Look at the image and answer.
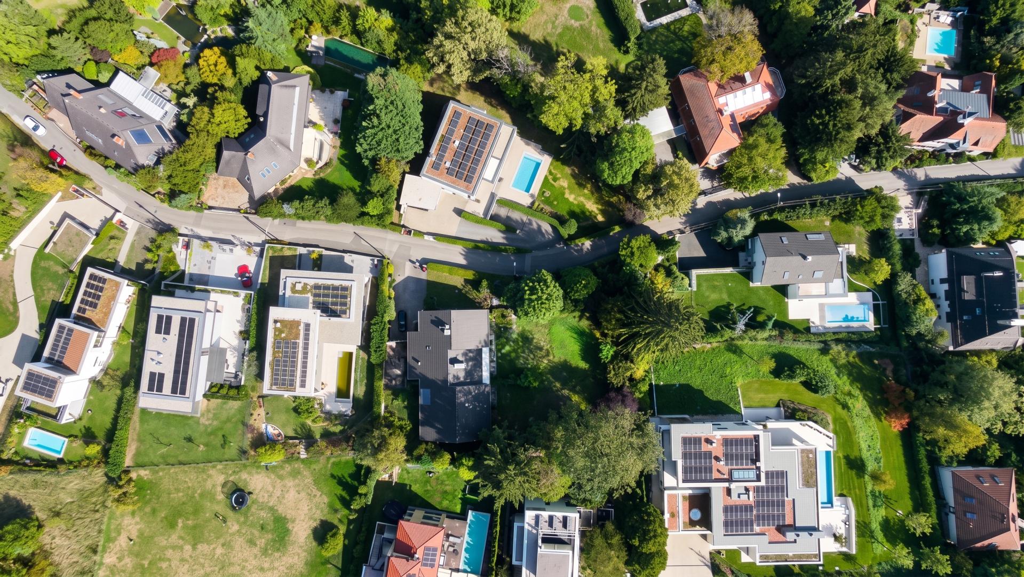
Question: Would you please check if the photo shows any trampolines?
Yes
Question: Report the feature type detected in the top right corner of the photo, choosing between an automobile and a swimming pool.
swimming pool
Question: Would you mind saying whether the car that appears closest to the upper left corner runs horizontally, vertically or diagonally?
diagonally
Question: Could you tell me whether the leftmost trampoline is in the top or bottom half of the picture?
bottom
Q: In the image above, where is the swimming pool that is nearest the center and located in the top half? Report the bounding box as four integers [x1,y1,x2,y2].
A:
[509,151,544,195]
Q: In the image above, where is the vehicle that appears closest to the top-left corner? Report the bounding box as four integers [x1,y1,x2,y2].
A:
[22,114,48,138]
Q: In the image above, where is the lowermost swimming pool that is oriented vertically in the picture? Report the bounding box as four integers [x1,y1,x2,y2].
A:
[459,509,491,576]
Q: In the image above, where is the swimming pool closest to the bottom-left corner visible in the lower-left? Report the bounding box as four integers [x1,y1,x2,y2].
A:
[23,426,70,459]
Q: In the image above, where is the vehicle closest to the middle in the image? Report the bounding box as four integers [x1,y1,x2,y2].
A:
[395,309,408,332]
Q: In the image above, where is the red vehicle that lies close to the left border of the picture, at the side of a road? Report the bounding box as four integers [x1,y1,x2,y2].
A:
[46,148,69,167]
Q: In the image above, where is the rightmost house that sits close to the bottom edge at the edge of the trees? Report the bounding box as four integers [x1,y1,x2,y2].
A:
[937,464,1020,550]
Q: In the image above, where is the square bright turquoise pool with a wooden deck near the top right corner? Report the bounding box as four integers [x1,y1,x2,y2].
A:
[924,24,959,59]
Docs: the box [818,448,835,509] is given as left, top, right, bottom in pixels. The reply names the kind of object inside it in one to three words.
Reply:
swimming pool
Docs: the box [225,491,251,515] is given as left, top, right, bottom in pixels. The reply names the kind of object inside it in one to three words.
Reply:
trampoline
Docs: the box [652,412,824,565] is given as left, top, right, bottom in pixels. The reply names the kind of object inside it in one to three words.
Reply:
house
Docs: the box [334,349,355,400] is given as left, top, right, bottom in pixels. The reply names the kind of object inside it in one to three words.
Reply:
swimming pool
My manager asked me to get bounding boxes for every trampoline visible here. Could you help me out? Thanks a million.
[383,500,405,522]
[225,491,251,515]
